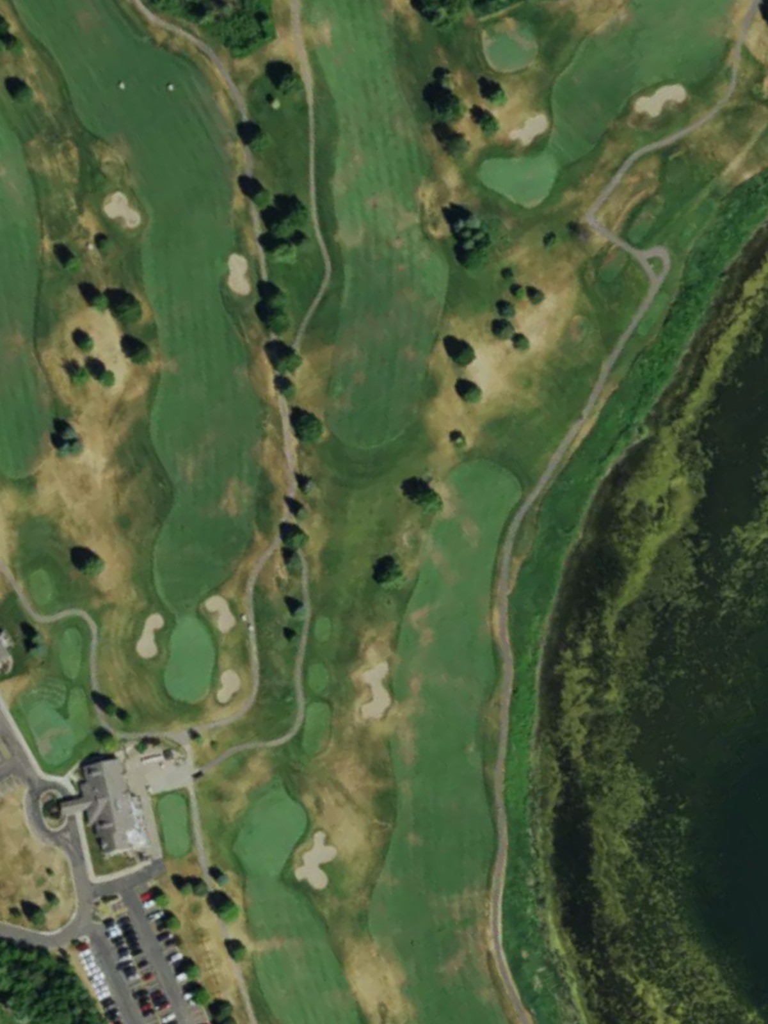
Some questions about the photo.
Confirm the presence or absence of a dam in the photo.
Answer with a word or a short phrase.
No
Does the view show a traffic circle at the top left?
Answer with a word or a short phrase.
No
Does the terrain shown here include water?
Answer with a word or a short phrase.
Yes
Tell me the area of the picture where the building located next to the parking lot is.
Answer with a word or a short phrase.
bottom left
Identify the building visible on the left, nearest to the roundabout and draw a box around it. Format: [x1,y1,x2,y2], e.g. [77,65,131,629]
[57,760,134,854]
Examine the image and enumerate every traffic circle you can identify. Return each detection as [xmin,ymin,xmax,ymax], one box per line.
[39,789,67,831]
